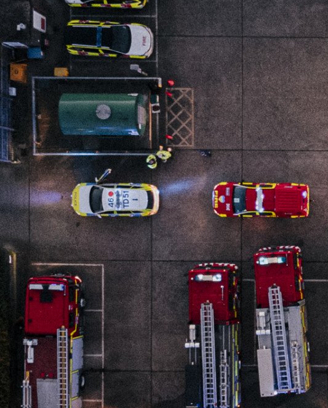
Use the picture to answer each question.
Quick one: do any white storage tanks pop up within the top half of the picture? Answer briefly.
No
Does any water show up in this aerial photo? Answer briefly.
No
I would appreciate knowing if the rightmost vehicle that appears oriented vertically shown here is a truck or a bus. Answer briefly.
truck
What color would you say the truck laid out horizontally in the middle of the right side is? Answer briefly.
red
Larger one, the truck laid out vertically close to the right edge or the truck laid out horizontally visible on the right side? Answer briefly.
the truck laid out vertically close to the right edge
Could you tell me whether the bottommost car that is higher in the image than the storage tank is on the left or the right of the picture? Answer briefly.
left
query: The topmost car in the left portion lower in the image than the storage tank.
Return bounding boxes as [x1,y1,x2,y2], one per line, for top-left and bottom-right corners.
[73,166,161,222]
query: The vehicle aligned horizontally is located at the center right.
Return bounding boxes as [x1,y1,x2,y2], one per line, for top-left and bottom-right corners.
[215,179,311,223]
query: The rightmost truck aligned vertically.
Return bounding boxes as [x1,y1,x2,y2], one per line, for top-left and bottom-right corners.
[245,242,312,398]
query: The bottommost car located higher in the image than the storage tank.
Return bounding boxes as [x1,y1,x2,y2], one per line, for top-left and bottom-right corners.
[67,17,156,59]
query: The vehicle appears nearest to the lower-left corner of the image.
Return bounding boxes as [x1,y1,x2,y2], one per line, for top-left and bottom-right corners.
[22,267,87,408]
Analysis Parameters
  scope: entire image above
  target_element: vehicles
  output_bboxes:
[22,267,87,408]
[245,242,312,398]
[67,17,156,59]
[215,179,311,223]
[73,166,161,222]
[181,260,243,408]
[62,0,150,10]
